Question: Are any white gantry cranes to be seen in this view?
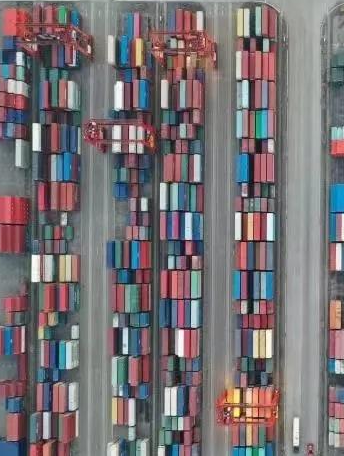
No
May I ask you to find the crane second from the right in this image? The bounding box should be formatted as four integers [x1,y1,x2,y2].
[148,30,219,71]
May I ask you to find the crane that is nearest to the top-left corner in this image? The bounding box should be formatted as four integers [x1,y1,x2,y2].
[16,21,95,62]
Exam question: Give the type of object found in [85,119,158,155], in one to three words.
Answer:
container crane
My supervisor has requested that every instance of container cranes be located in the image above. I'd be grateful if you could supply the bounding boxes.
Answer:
[215,389,280,426]
[16,21,95,62]
[148,30,219,71]
[85,119,158,155]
